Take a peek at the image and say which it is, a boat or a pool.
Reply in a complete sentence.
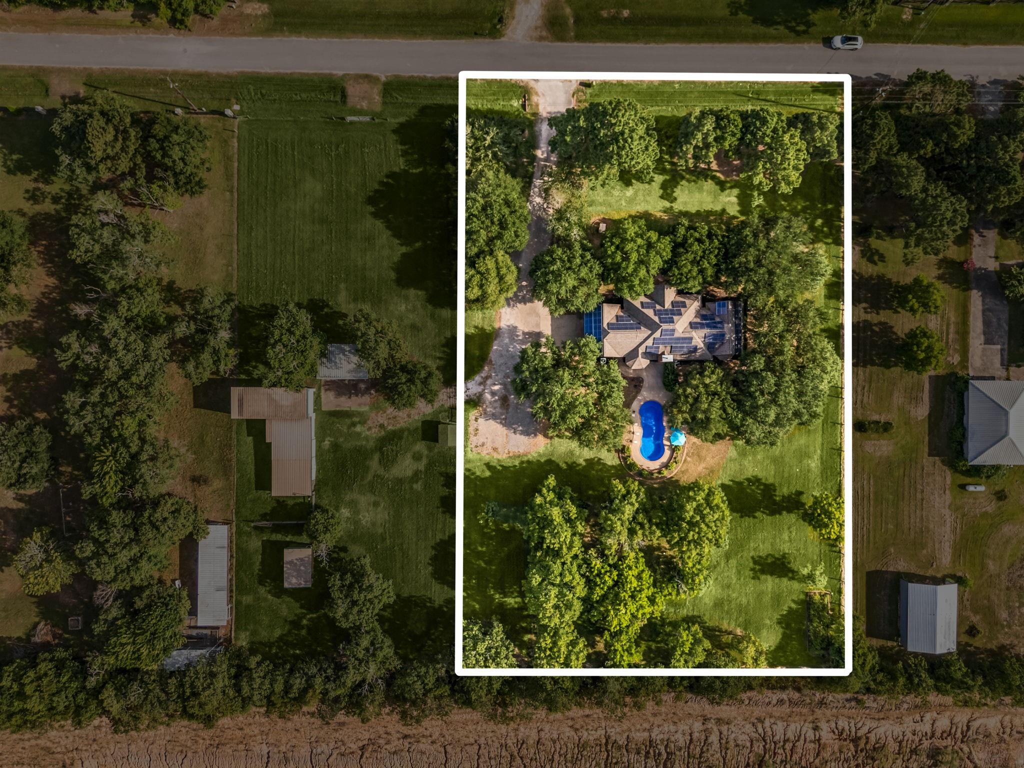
Of the two, only a pool appears.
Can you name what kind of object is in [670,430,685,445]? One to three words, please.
umbrella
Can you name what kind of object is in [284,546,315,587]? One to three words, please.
shed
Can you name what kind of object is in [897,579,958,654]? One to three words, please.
barn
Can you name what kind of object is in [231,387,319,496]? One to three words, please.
barn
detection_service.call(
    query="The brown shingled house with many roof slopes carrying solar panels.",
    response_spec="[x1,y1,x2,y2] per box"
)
[602,285,736,369]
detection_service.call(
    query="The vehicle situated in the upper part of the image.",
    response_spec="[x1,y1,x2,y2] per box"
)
[833,34,866,52]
